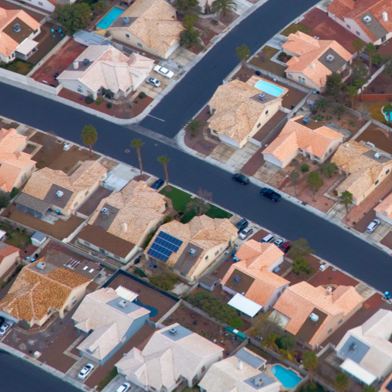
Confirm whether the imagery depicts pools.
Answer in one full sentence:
Yes, a pool is visible in the scene.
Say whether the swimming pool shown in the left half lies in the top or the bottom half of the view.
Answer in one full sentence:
You can find the swimming pool shown in the left half in the top half.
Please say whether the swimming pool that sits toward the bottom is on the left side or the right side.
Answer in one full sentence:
It is on the right.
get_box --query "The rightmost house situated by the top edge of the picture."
[328,0,392,46]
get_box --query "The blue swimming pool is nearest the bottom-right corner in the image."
[268,363,303,389]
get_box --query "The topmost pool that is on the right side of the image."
[252,78,286,98]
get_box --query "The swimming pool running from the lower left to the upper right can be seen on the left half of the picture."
[96,5,126,29]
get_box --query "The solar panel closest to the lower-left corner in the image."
[148,233,183,261]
